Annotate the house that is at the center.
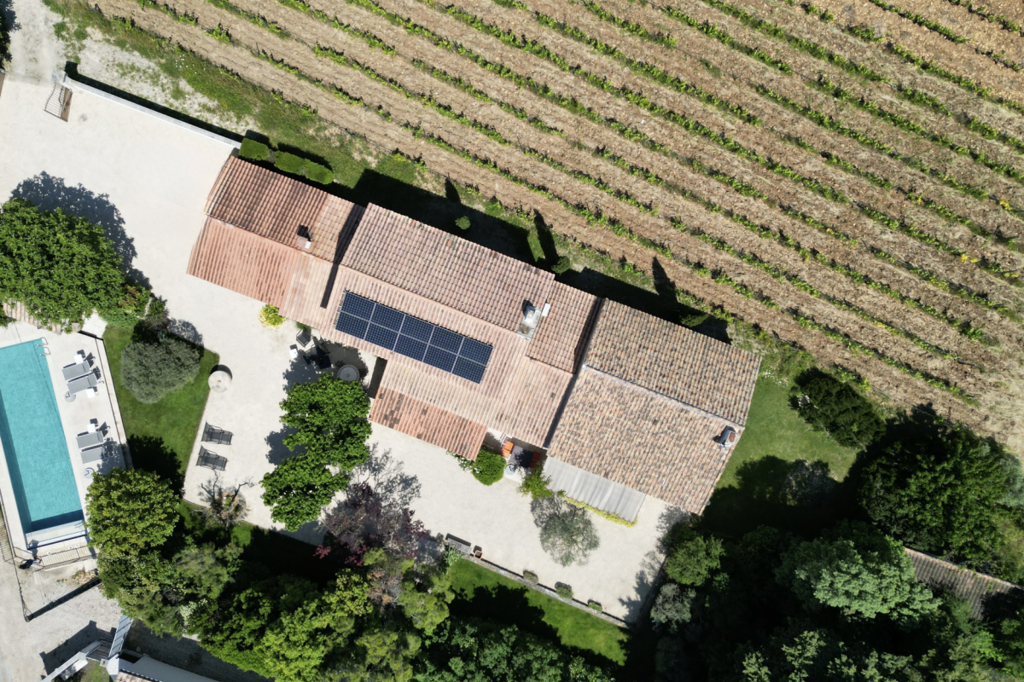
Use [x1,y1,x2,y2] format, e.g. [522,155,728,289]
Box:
[185,153,762,515]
